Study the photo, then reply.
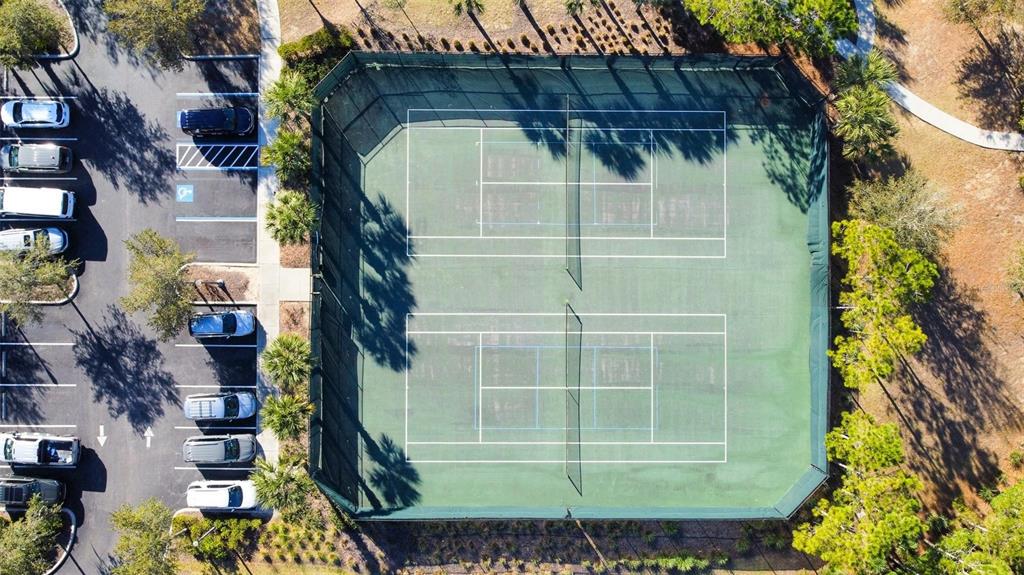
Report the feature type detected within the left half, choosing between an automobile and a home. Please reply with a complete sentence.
The feature located within the left half is an automobile.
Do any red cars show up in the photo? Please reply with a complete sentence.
No, no red car is visible in the view.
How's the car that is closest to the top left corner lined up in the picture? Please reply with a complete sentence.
From this overhead view, the car that is closest to the top left corner appears to run horizontally.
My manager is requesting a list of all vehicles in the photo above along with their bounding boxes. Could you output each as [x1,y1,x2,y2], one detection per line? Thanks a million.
[4,97,74,129]
[190,307,258,338]
[4,141,77,173]
[0,225,70,257]
[186,434,258,466]
[0,186,79,219]
[0,435,84,469]
[187,389,259,421]
[180,104,257,138]
[189,478,262,511]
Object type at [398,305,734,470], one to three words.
tennis court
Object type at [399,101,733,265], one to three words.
tennis court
